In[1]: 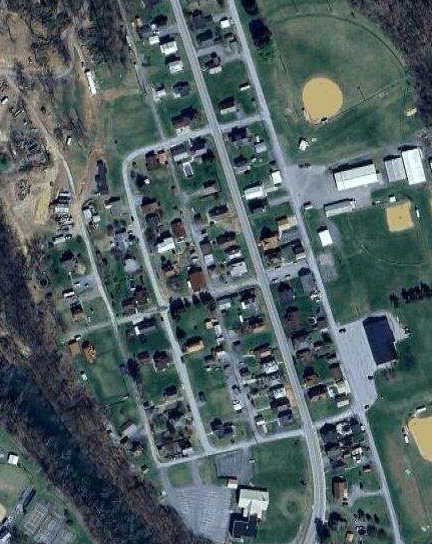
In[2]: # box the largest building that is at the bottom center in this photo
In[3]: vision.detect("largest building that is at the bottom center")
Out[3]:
[234,488,269,536]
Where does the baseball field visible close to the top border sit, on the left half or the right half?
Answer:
right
